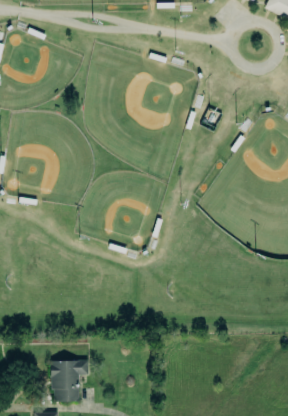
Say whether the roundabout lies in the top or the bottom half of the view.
top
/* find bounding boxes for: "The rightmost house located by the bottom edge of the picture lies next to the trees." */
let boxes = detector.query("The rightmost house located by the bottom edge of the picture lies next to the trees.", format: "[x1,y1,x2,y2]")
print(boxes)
[51,361,90,404]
